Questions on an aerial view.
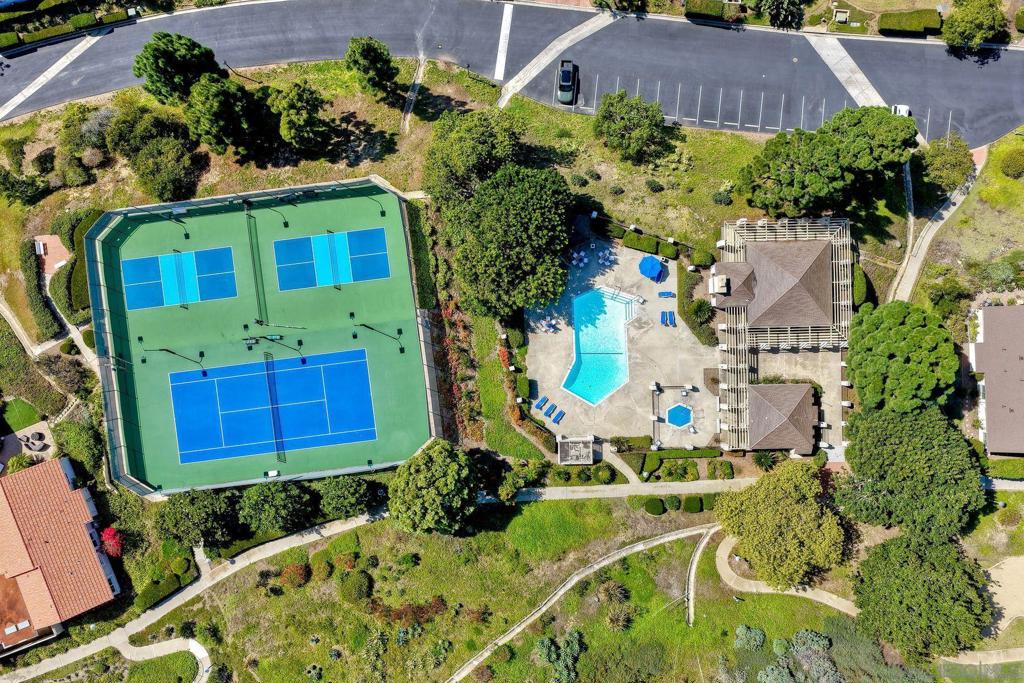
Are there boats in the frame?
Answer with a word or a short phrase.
No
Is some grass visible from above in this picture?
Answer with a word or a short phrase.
Yes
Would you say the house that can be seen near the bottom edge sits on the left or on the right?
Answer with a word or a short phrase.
left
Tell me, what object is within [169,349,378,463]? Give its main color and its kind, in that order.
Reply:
blue tennis court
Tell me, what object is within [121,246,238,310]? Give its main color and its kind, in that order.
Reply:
blue sports court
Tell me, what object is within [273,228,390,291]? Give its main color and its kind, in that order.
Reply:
blue sports court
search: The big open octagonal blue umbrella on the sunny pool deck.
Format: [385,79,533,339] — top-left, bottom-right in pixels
[638,255,662,279]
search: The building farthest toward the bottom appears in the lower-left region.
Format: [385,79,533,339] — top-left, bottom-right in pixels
[0,453,125,654]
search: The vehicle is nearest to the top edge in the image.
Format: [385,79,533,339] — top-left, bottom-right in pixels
[558,57,576,104]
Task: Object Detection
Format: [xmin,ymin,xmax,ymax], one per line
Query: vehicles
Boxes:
[890,102,911,122]
[558,57,576,104]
